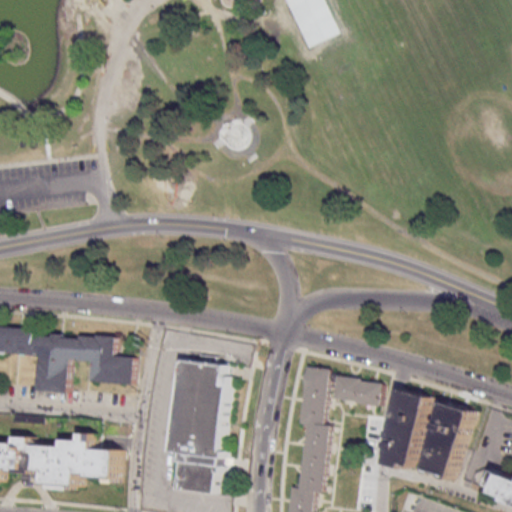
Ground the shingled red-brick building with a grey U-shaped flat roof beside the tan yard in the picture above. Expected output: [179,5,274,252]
[0,327,142,394]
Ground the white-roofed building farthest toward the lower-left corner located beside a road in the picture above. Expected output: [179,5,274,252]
[0,433,126,492]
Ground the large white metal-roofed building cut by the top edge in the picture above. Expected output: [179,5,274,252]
[286,0,344,49]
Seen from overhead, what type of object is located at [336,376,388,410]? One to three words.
building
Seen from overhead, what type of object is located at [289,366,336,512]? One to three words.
building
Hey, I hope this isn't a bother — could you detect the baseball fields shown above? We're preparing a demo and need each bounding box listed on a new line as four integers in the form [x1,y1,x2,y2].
[446,95,512,196]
